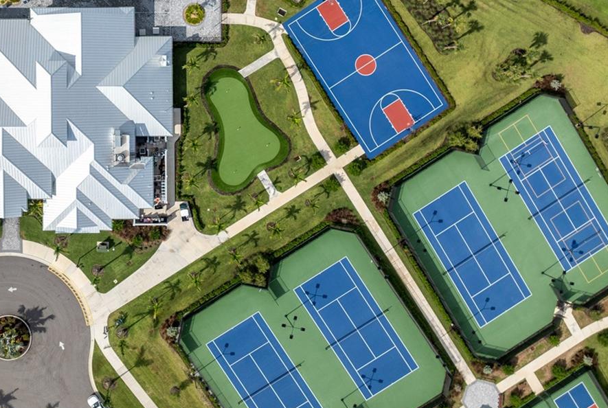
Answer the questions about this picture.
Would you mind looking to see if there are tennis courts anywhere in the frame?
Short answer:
Yes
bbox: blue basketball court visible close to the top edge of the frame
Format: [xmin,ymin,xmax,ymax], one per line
[281,0,448,159]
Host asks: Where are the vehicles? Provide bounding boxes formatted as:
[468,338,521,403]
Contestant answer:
[180,202,189,220]
[87,391,106,408]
